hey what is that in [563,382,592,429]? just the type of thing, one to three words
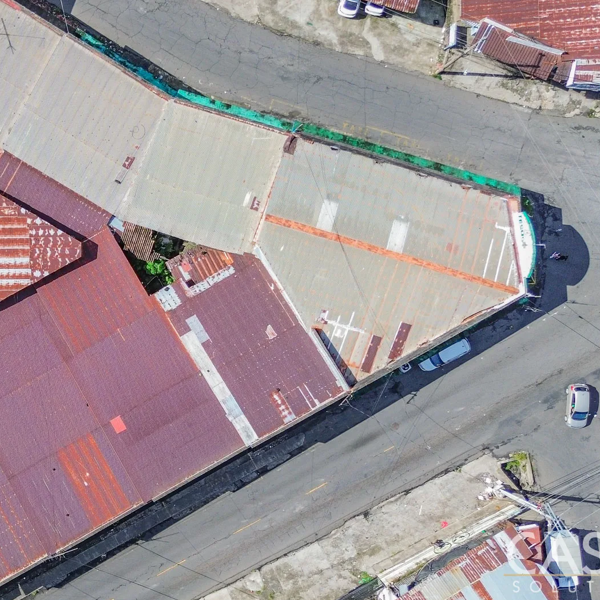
car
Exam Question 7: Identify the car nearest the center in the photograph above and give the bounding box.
[417,336,473,373]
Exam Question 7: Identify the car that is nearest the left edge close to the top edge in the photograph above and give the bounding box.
[334,0,360,22]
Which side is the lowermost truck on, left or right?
right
